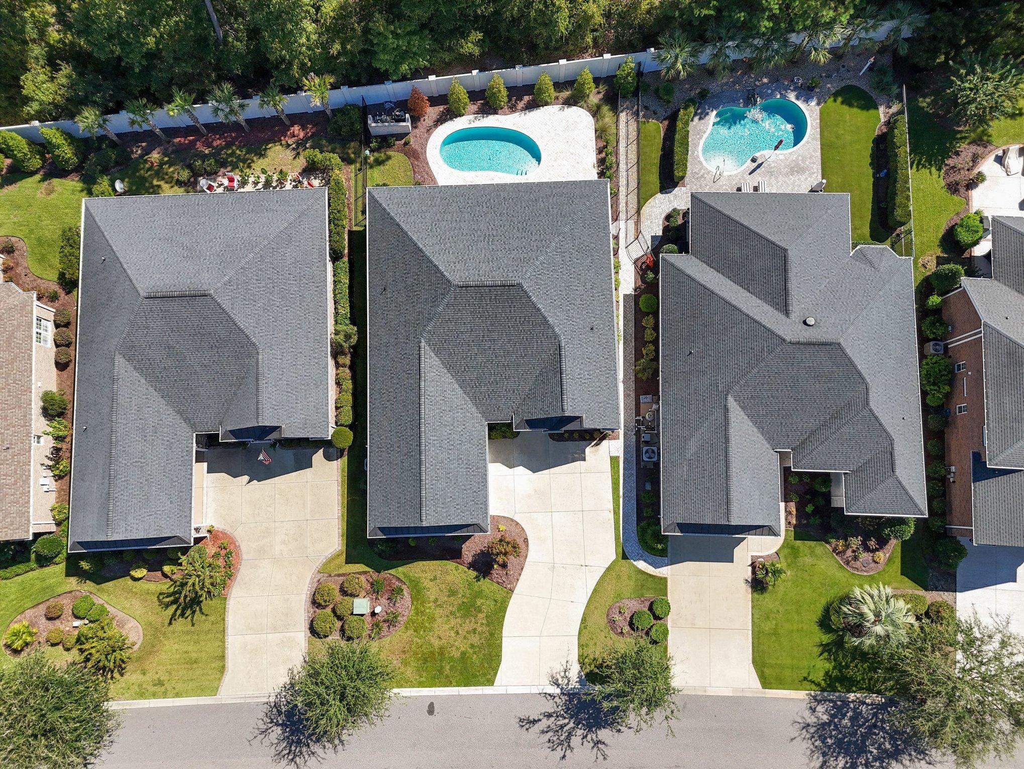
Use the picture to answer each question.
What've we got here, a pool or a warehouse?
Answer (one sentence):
I can see a pool in this picture.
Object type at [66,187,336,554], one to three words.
house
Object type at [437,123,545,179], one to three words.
swimming pool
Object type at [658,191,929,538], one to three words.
house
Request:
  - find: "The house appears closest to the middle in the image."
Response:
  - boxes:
[365,178,623,540]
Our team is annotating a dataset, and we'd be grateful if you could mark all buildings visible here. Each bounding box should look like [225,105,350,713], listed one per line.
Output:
[66,187,336,554]
[936,214,1024,550]
[0,281,57,540]
[658,191,929,538]
[365,178,623,540]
